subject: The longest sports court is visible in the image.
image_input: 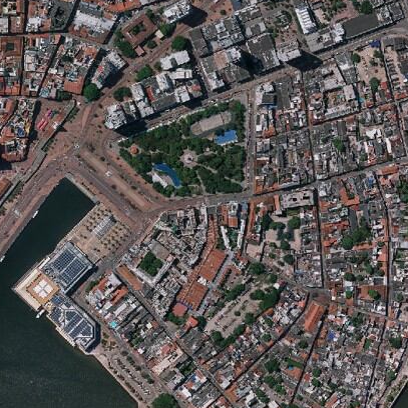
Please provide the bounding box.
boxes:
[190,112,232,135]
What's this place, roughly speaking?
residential area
